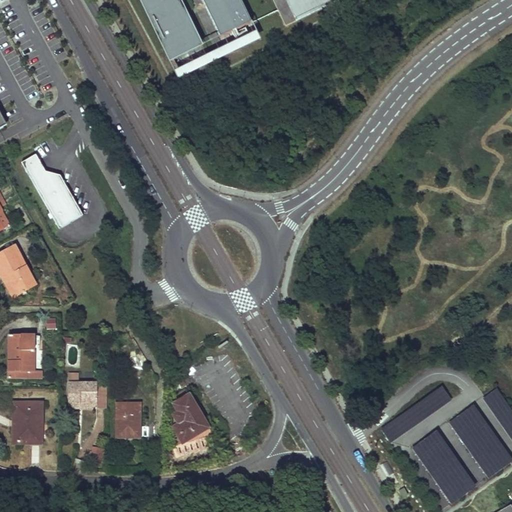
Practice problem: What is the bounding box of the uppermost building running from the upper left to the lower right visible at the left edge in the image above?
[22,152,83,229]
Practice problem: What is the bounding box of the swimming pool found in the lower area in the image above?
[66,344,80,368]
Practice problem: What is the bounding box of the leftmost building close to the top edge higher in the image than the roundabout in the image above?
[138,0,202,61]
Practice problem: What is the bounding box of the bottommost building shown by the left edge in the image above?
[12,400,45,445]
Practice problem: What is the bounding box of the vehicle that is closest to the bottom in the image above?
[354,450,367,472]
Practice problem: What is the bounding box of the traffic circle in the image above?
[162,190,296,328]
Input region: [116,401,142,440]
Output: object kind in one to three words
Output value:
house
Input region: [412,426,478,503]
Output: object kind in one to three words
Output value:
building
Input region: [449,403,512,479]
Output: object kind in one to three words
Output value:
building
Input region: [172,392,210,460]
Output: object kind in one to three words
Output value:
house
